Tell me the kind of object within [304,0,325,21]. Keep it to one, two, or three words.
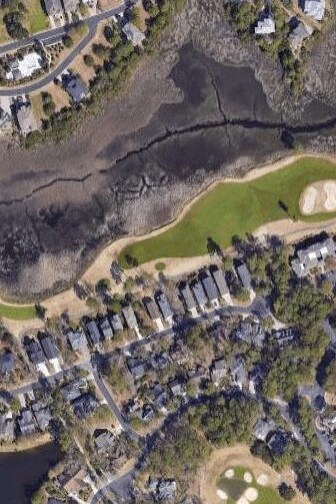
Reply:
house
